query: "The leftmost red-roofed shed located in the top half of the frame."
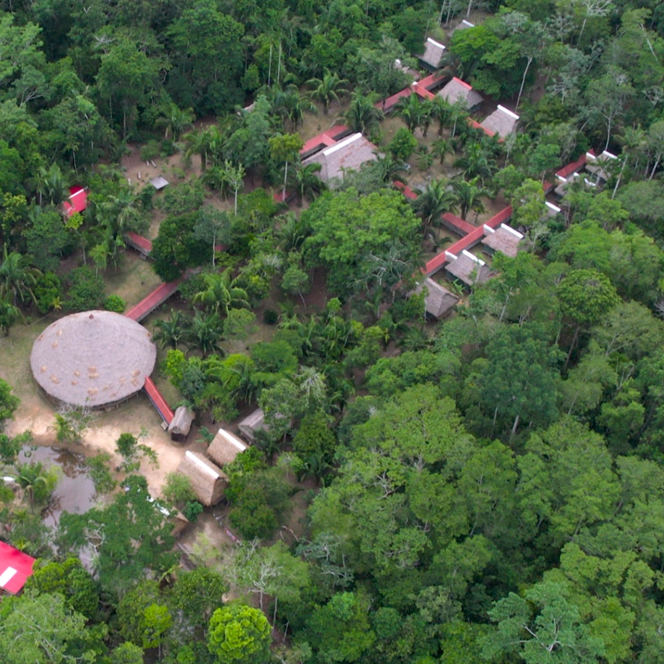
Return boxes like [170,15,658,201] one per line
[61,186,97,216]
